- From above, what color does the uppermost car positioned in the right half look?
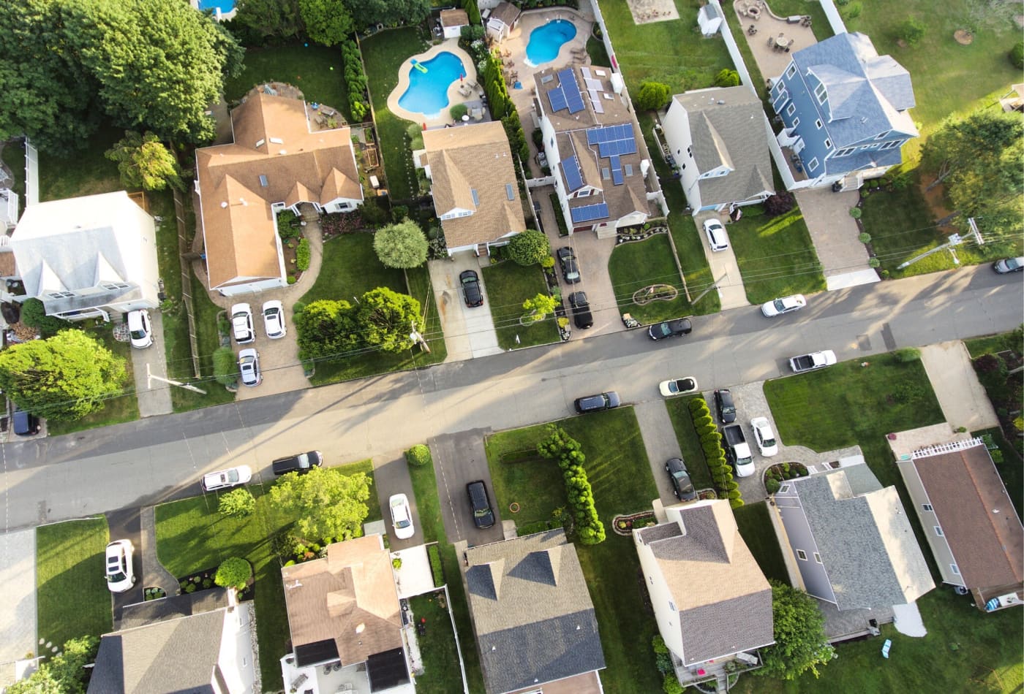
white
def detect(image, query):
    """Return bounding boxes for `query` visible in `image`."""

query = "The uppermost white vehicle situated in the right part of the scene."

[702,218,730,255]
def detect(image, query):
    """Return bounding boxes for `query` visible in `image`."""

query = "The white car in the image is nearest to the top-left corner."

[128,309,154,349]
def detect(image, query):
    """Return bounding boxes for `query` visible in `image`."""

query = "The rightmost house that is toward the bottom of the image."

[891,427,1024,620]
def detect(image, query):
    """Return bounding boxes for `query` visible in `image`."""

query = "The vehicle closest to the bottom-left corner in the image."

[104,541,134,591]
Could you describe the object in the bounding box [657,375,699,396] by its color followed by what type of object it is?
white car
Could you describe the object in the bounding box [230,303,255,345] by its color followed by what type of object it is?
white car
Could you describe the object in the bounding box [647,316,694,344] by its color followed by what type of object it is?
black car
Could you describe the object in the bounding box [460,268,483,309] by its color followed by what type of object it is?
black car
